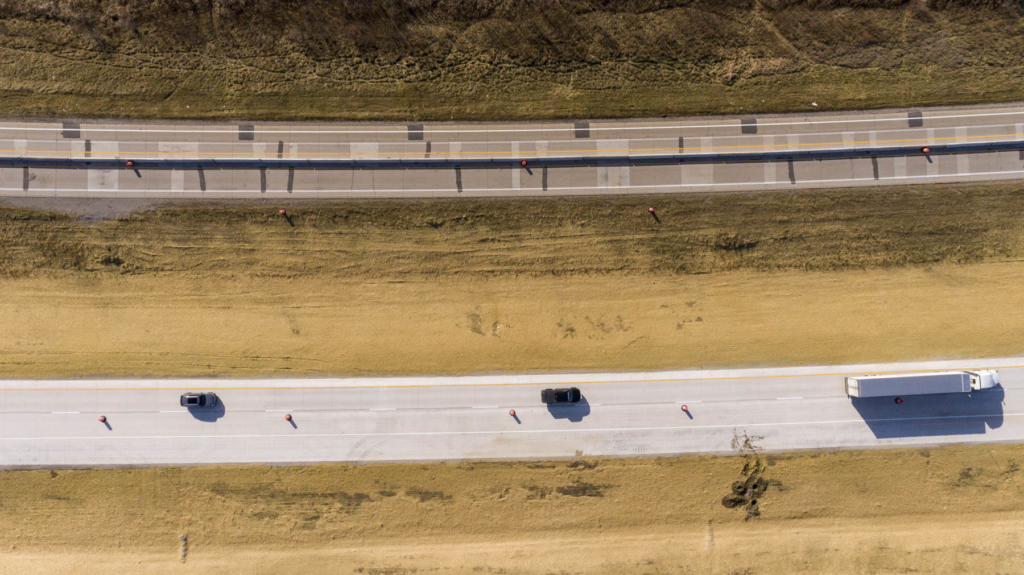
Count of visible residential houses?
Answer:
none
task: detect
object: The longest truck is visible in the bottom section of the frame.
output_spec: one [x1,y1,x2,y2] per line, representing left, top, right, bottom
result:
[844,370,1002,397]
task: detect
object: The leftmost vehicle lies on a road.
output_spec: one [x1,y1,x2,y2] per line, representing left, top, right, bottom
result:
[179,392,217,408]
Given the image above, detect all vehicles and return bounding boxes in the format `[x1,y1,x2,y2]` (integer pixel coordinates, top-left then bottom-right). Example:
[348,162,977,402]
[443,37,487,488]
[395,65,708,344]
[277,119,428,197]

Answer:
[179,392,217,408]
[540,387,581,404]
[844,370,1002,397]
